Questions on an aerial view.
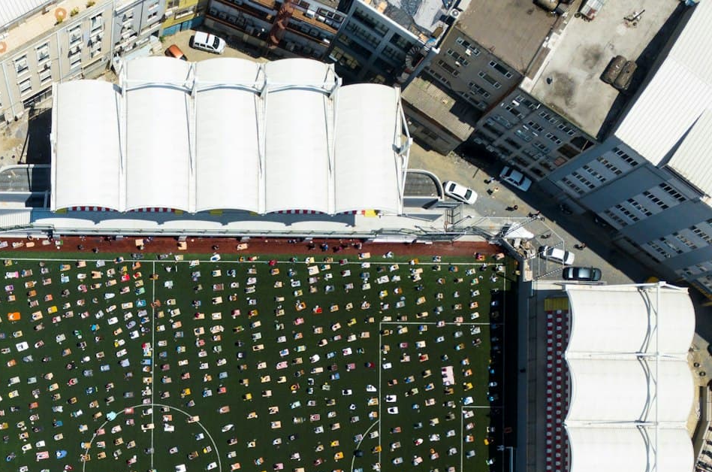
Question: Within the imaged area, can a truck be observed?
No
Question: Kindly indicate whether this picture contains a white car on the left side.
Yes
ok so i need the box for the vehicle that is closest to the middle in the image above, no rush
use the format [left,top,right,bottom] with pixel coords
[445,180,477,205]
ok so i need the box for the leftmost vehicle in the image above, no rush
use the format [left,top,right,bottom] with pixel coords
[161,38,190,63]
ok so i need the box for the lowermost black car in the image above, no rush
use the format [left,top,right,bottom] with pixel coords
[563,265,597,282]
